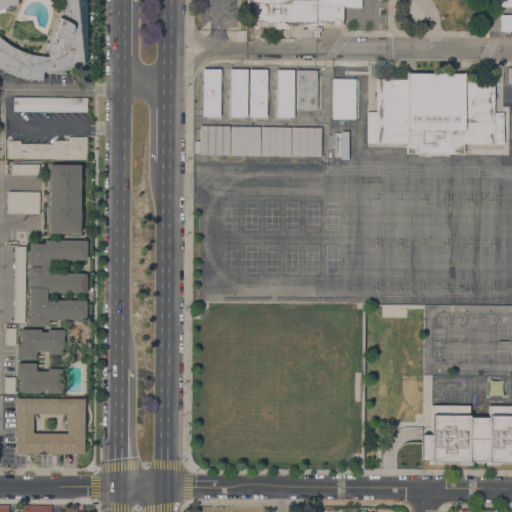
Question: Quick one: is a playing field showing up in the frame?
Yes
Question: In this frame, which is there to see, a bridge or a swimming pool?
swimming pool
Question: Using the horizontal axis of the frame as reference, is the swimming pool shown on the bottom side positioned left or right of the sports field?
on its left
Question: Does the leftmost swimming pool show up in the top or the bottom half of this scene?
top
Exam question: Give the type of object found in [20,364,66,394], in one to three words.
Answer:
building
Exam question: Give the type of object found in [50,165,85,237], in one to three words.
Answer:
building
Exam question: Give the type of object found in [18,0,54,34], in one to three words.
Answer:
swimming pool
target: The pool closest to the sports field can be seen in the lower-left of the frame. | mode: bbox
[67,362,88,396]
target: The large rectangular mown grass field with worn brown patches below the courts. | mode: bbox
[192,304,362,468]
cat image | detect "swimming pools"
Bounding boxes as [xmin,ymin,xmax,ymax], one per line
[18,0,54,34]
[67,362,88,396]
